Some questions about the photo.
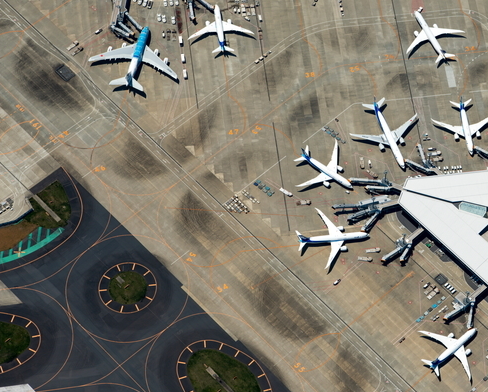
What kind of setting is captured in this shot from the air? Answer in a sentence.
What you see here is an airport.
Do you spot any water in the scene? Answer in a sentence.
No, no water is visible.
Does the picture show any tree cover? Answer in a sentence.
No, there is no tree cover in the image.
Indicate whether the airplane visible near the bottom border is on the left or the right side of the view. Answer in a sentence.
The airplane visible near the bottom border is on the right side of the image.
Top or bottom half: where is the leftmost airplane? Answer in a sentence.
The top half of the photo is where the leftmost airplane is.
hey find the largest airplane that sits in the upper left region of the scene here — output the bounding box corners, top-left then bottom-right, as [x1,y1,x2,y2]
[89,27,178,91]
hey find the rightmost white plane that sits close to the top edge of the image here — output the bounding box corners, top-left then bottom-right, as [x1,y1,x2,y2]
[406,12,465,60]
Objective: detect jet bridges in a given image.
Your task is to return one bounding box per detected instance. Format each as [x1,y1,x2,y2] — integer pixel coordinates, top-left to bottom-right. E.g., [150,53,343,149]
[396,242,413,262]
[462,301,475,328]
[123,10,143,31]
[109,23,130,42]
[416,144,427,168]
[198,0,215,14]
[359,209,382,233]
[405,159,429,175]
[333,196,393,210]
[183,0,194,20]
[349,177,390,186]
[382,240,412,263]
[443,301,472,321]
[473,146,488,157]
[347,206,380,222]
[118,20,135,39]
[366,185,394,194]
